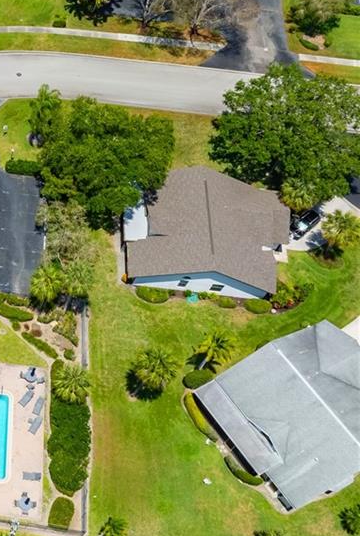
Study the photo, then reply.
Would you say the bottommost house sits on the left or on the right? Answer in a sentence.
It is on the right.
